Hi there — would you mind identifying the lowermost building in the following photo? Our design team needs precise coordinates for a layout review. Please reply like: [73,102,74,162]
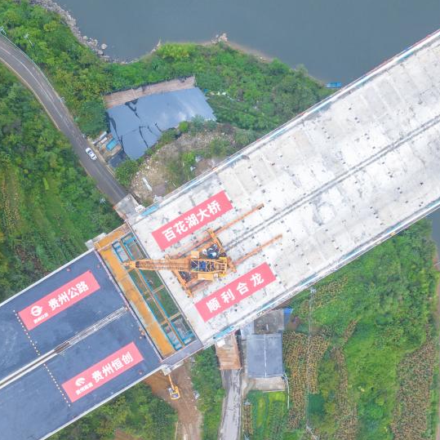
[246,333,282,377]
